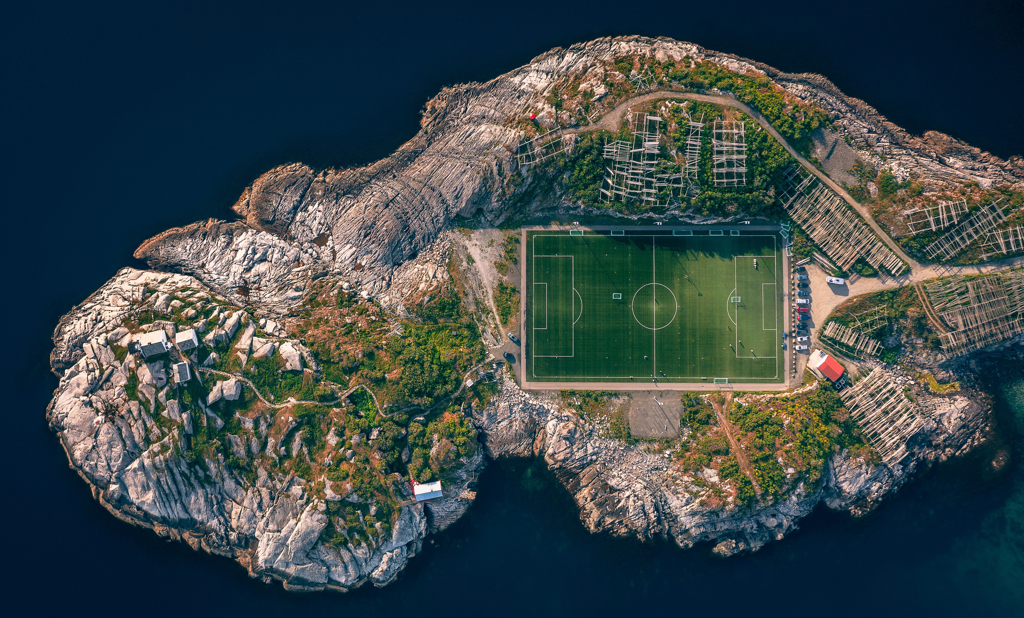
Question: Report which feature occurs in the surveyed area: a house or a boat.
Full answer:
I can see a house in this picture.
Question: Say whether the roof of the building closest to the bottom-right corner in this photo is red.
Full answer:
Yes, the roof of the building closest to the bottom-right corner appears red.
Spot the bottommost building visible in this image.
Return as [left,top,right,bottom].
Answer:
[413,480,444,501]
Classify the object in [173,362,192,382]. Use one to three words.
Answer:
shed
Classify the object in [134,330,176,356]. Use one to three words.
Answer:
house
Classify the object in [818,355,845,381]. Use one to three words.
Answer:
building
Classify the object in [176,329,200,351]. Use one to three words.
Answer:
house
